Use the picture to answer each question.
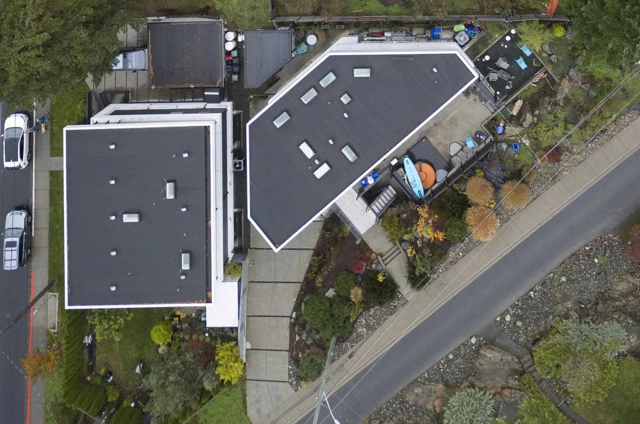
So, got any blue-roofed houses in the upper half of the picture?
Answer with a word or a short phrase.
No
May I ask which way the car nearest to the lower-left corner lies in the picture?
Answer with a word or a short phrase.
vertically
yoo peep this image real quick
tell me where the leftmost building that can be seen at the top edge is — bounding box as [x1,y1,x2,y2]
[146,15,230,89]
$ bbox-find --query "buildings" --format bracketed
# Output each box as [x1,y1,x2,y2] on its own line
[146,15,230,89]
[64,91,245,327]
[244,26,294,88]
[246,27,483,252]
